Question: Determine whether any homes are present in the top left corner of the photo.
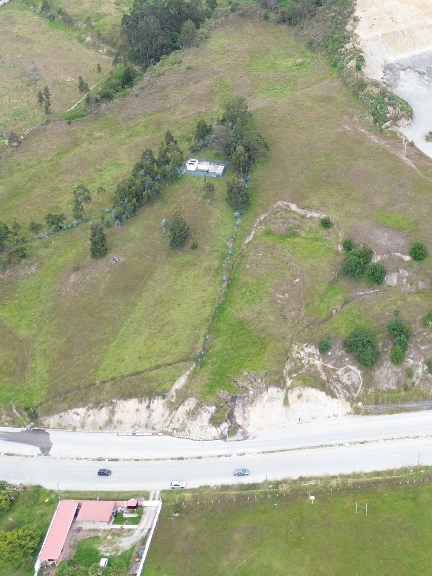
No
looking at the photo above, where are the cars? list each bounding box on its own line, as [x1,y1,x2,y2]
[234,470,249,477]
[169,481,185,489]
[95,555,112,574]
[95,469,113,477]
